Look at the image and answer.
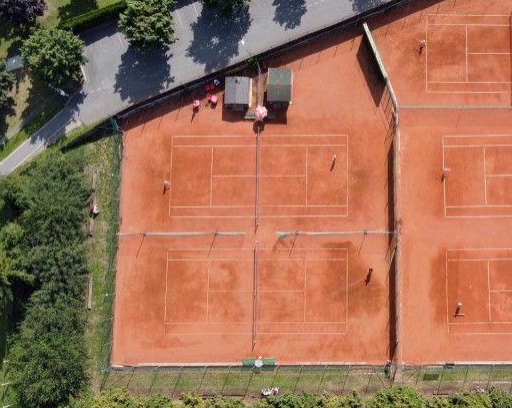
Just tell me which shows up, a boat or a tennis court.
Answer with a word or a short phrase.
tennis court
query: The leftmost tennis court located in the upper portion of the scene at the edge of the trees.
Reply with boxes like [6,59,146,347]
[118,13,393,233]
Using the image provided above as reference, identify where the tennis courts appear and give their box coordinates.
[118,13,393,233]
[390,109,512,232]
[393,232,512,366]
[387,0,512,109]
[110,233,396,366]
